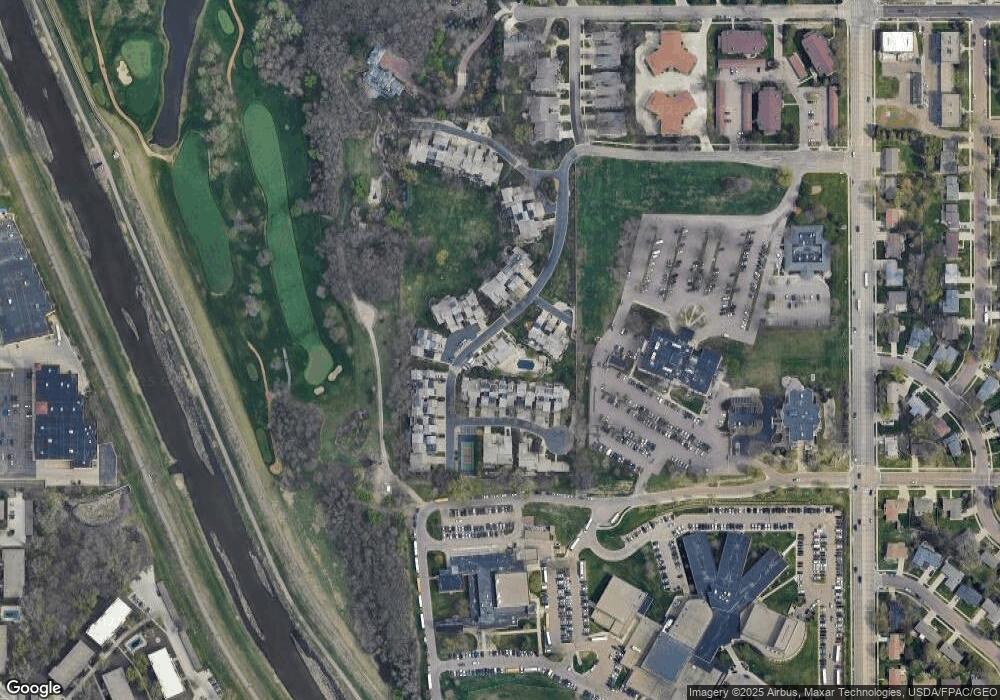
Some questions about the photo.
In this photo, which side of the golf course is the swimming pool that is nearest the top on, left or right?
on the right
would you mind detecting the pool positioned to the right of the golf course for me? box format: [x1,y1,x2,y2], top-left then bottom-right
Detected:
[497,350,551,377]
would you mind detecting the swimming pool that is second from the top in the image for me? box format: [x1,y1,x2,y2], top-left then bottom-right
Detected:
[1,606,21,621]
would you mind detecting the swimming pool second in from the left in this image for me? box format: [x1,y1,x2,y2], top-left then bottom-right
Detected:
[125,635,146,653]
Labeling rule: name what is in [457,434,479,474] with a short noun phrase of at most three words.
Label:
tennis court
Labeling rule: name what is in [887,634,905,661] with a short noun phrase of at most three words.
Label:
house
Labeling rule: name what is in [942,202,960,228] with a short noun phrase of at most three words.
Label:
house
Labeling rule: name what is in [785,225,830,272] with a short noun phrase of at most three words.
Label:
building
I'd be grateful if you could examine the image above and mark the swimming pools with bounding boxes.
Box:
[125,635,146,653]
[1,606,21,621]
[497,350,551,377]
